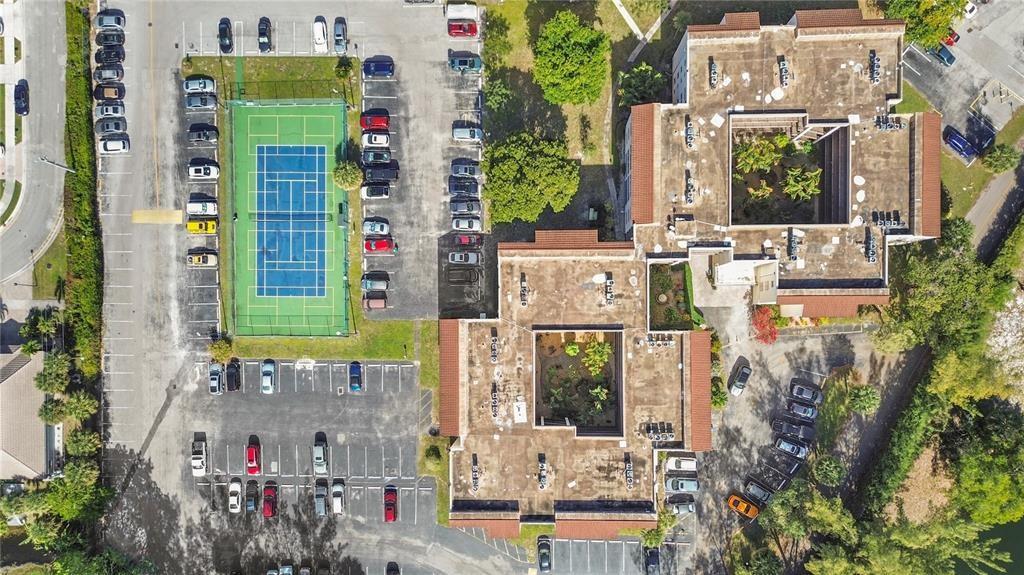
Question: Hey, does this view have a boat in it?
No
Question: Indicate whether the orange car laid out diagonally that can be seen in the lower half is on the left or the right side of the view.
right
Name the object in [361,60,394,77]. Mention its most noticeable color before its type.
blue car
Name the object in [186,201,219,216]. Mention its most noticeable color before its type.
white vehicle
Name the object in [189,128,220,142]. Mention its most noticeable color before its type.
gray car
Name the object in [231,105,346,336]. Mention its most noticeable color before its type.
green tennis court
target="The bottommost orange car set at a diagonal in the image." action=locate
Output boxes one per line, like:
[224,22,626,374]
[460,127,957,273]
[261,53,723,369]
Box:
[727,494,758,518]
